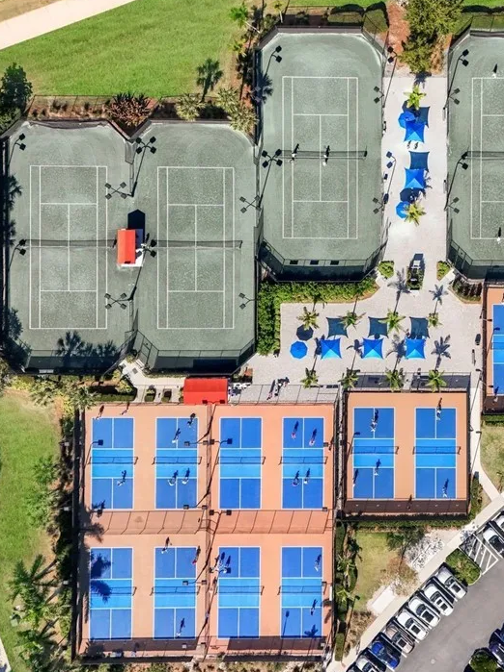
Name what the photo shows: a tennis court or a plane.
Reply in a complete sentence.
It is a tennis court that can be seen here.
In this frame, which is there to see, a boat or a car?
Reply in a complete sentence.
Of the two, only a car appears.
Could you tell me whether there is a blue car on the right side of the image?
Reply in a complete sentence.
Yes, looking on the right side of the image, one can make out a blue car.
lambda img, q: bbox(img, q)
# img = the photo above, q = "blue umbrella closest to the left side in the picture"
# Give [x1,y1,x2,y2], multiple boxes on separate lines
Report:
[289,340,308,358]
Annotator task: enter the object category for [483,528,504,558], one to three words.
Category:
car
